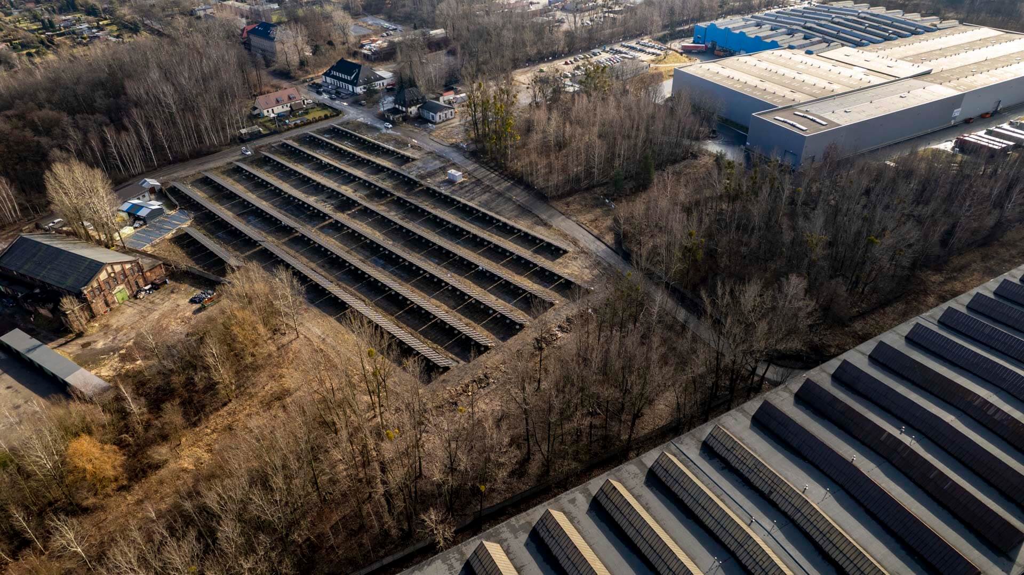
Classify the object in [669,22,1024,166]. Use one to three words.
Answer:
warehouse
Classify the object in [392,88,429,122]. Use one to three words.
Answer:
house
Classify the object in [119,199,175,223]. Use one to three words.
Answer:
hangar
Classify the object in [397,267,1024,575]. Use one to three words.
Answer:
building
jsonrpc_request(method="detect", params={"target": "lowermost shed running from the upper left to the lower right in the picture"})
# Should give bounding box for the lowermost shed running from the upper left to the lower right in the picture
[0,328,114,405]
